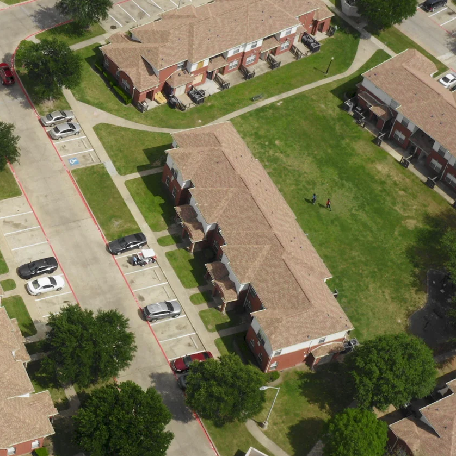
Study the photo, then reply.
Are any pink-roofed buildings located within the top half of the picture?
No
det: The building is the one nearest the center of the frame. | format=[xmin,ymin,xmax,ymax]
[164,120,354,371]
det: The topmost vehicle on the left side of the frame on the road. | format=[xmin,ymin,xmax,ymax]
[0,62,16,86]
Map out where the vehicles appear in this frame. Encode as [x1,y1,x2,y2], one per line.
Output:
[439,72,456,86]
[108,234,148,256]
[0,62,16,86]
[171,350,212,373]
[418,0,451,12]
[27,275,65,297]
[137,247,158,265]
[41,108,75,126]
[17,258,58,281]
[143,300,182,321]
[48,121,83,140]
